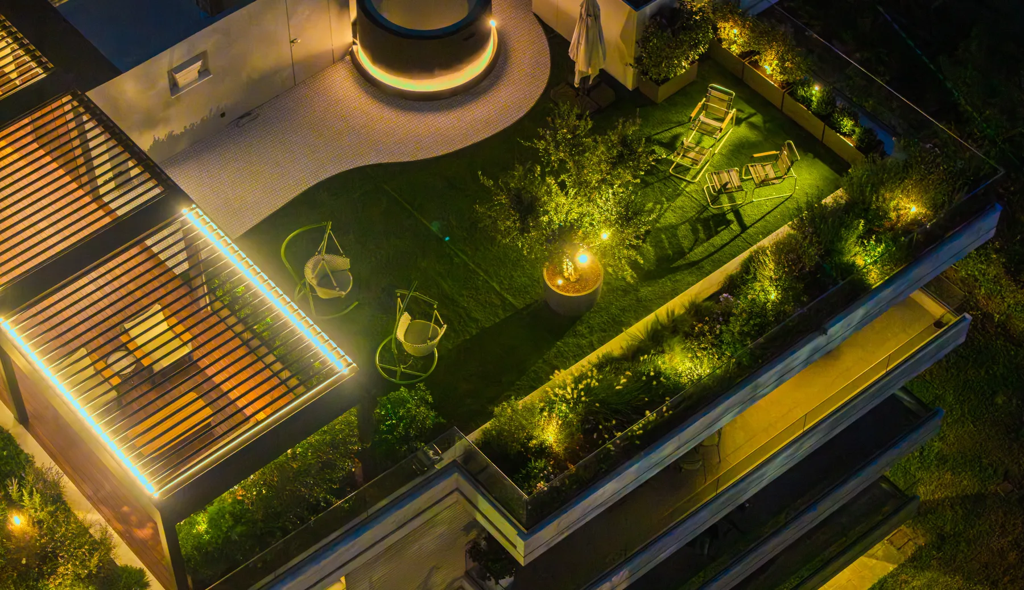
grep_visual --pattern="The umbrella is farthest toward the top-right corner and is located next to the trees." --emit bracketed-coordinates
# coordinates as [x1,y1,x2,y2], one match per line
[553,0,615,117]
